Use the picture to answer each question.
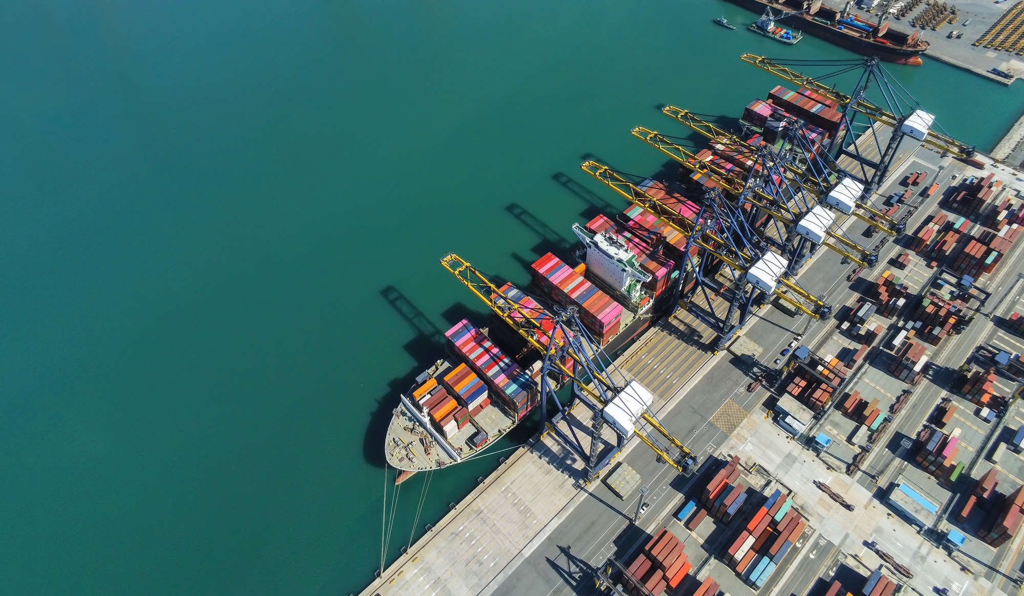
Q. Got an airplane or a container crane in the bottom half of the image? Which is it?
container crane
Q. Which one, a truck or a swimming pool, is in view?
truck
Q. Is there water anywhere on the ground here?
Yes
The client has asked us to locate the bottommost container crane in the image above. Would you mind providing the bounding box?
[587,552,659,596]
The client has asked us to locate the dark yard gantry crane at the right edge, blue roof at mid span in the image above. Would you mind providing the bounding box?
[949,356,1024,430]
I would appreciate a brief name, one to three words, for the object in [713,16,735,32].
boat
